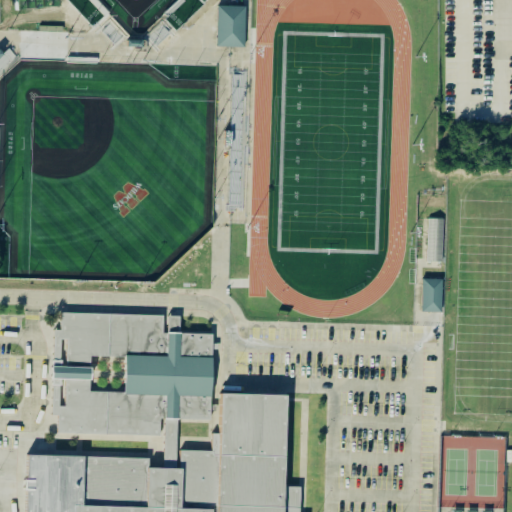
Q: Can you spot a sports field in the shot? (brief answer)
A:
Yes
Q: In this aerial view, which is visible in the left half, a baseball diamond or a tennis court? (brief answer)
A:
baseball diamond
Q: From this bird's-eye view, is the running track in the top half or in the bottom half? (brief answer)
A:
top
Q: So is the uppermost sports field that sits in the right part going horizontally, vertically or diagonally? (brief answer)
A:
vertically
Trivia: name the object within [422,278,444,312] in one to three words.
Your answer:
building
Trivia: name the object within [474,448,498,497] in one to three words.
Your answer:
tennis court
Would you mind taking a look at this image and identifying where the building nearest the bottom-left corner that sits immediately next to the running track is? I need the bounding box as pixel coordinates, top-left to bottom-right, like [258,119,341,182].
[22,313,302,512]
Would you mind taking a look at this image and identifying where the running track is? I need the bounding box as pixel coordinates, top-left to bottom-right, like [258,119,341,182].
[250,0,413,318]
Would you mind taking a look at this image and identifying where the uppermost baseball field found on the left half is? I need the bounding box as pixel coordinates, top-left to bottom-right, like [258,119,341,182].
[106,0,178,34]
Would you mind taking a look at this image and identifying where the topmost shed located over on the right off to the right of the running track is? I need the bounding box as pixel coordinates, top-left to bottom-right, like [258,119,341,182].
[426,218,444,262]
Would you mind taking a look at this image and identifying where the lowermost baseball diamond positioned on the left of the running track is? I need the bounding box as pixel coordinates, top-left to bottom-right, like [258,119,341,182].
[0,60,217,280]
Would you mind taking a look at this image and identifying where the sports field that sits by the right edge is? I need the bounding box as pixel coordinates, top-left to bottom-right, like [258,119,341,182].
[443,178,512,432]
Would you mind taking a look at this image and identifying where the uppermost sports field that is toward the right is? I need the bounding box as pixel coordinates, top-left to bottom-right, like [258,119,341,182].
[268,22,394,300]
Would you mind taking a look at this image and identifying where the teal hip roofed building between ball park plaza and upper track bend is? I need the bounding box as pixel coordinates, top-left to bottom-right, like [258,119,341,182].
[217,6,246,47]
